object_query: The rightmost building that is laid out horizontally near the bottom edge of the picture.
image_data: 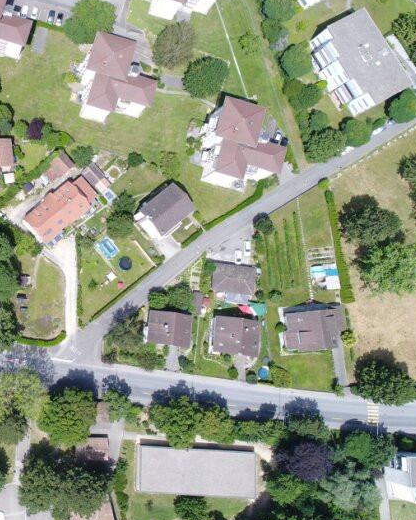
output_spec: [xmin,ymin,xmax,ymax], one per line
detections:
[132,438,256,499]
